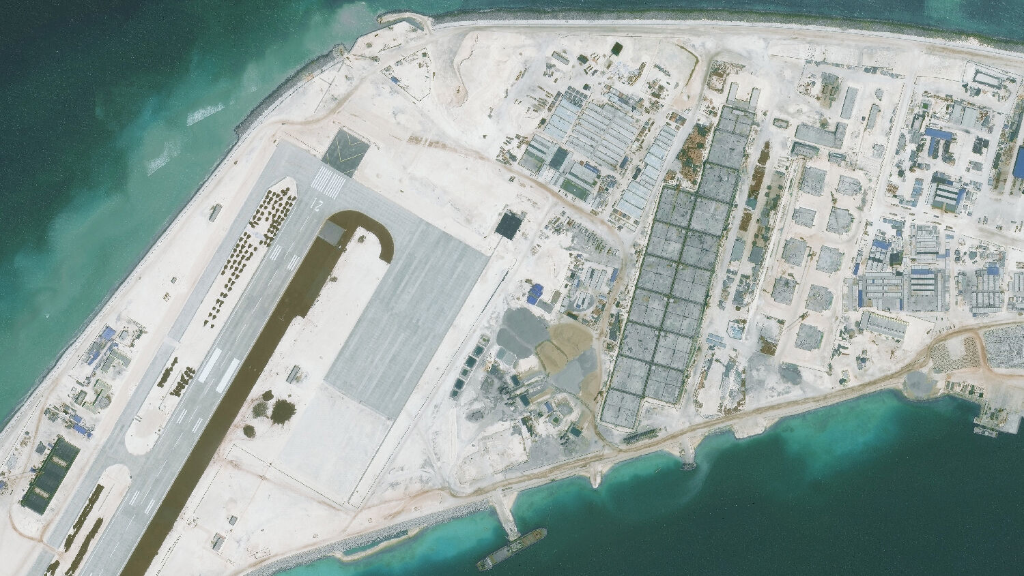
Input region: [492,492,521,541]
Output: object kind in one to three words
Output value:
pier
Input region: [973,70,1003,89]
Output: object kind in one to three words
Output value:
building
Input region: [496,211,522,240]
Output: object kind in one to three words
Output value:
building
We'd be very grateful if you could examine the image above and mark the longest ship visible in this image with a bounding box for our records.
[476,530,547,571]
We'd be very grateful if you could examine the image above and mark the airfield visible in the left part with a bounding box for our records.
[27,127,489,576]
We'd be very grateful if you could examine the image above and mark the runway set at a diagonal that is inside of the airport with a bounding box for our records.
[77,161,369,576]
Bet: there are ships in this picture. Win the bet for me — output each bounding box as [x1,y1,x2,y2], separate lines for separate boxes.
[476,530,547,571]
[974,427,998,438]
